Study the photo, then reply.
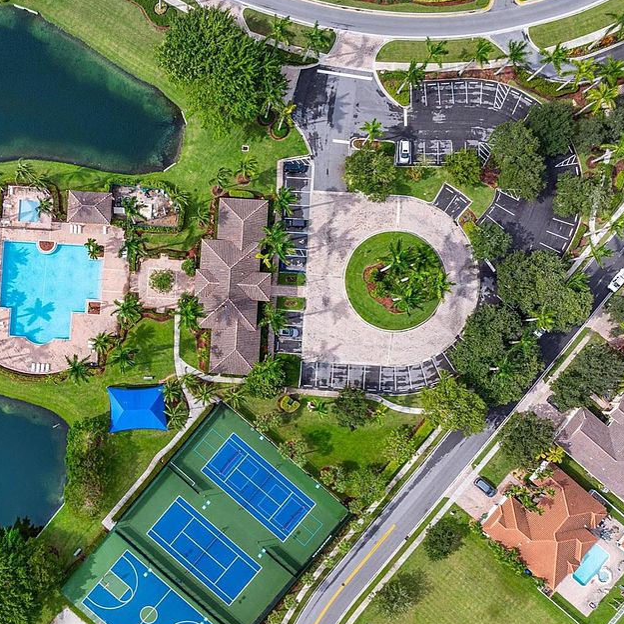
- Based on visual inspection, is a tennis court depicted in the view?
Yes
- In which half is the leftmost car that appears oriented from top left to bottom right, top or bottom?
bottom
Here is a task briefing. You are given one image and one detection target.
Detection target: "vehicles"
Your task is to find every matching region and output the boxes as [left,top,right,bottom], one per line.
[278,328,300,337]
[400,141,411,163]
[285,161,308,172]
[530,324,552,341]
[476,477,498,498]
[285,218,308,229]
[608,272,624,294]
